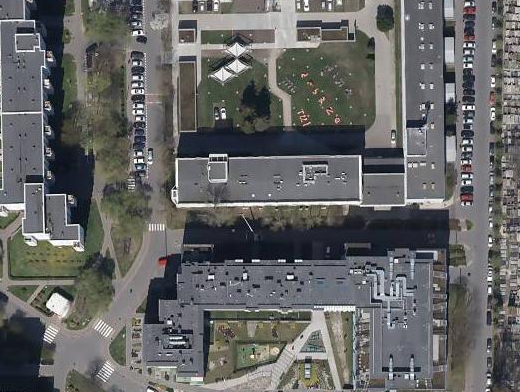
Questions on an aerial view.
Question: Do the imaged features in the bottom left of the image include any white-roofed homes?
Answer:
Yes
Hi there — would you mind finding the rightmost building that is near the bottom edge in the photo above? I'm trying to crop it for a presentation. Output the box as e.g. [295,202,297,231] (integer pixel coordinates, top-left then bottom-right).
[138,249,447,392]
